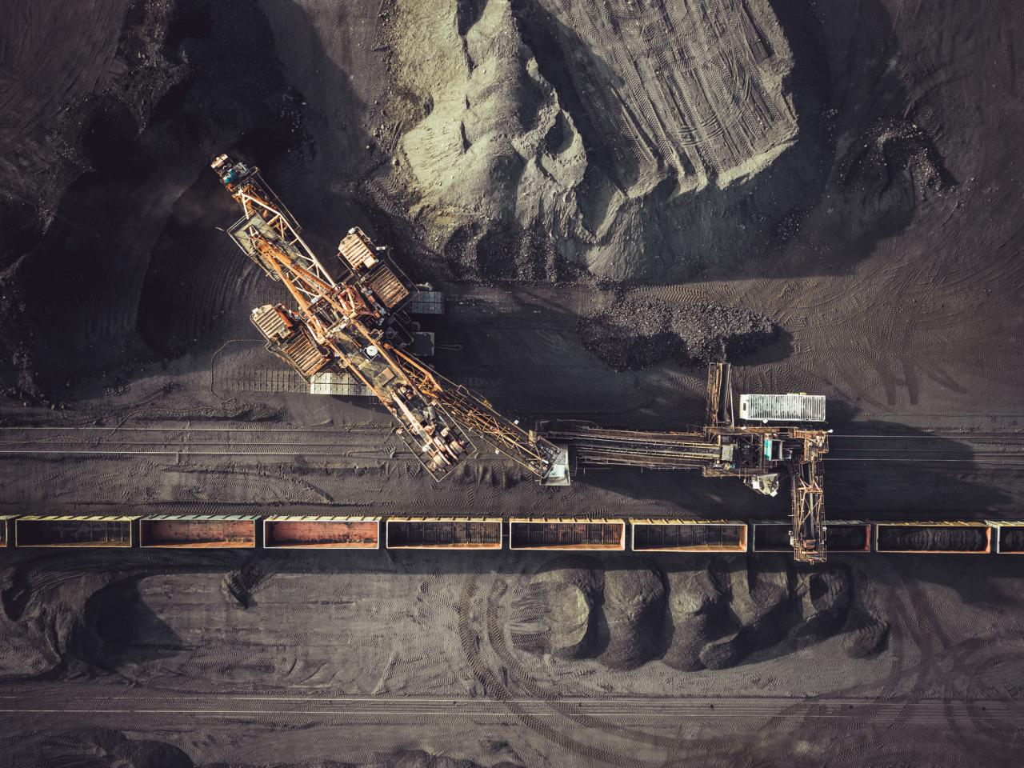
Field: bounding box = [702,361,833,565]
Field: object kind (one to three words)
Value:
work vehicle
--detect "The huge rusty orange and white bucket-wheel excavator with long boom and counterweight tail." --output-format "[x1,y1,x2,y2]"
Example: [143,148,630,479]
[210,154,561,482]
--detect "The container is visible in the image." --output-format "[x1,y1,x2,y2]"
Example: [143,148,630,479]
[733,391,827,425]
